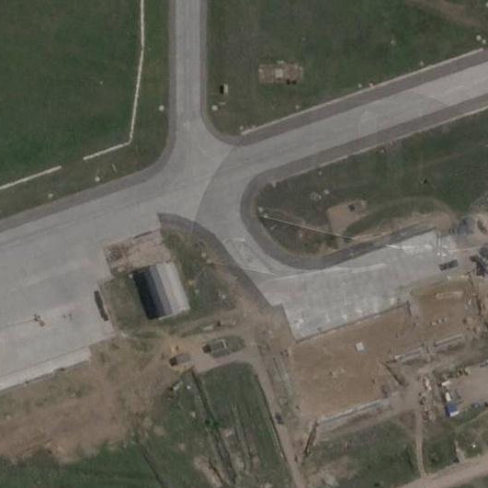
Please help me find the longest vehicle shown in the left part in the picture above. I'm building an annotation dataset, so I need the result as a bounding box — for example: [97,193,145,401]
[93,291,109,321]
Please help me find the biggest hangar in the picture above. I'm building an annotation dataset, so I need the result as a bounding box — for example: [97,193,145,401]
[143,262,190,320]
